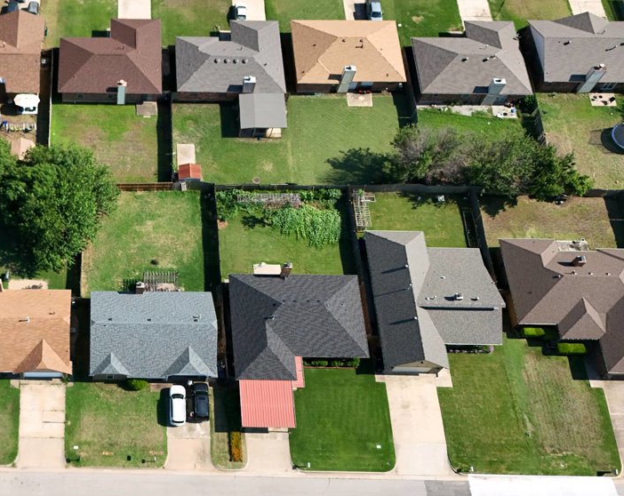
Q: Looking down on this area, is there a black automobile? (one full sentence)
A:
Yes, a black automobile appears in the view.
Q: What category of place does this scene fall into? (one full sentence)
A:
It's a residential area.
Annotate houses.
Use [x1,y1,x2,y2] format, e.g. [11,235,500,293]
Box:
[494,239,624,381]
[363,231,505,376]
[0,8,45,106]
[522,10,624,96]
[408,20,533,108]
[85,280,218,386]
[291,20,406,98]
[0,277,73,382]
[229,262,370,387]
[58,18,161,107]
[176,20,285,104]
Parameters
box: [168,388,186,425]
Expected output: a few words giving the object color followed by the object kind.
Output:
white car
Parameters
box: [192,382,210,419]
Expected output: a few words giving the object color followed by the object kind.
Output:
black car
